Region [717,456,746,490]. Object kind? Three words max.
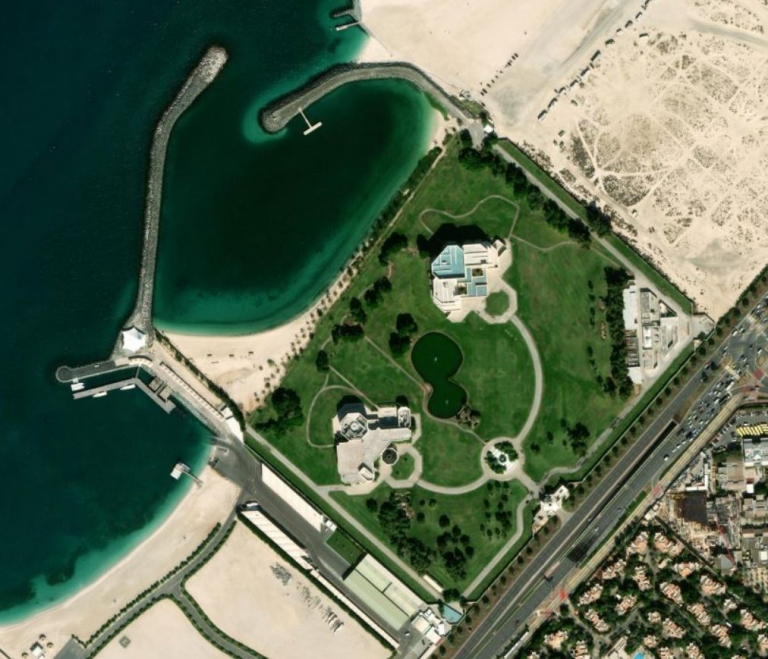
house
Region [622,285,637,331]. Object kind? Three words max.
shed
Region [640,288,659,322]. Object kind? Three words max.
building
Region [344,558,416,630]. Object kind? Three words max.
building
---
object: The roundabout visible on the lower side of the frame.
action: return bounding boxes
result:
[482,437,524,479]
